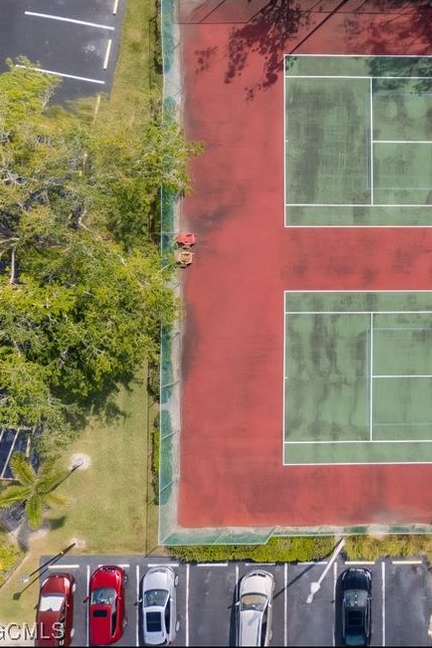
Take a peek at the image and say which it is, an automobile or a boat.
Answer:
automobile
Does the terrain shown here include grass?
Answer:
Yes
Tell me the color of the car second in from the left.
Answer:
red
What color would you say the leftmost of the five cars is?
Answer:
red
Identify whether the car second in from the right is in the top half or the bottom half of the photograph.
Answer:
bottom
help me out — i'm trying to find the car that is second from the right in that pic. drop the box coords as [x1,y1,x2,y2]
[236,568,274,648]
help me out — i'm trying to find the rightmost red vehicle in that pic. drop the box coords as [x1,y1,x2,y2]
[83,565,125,644]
